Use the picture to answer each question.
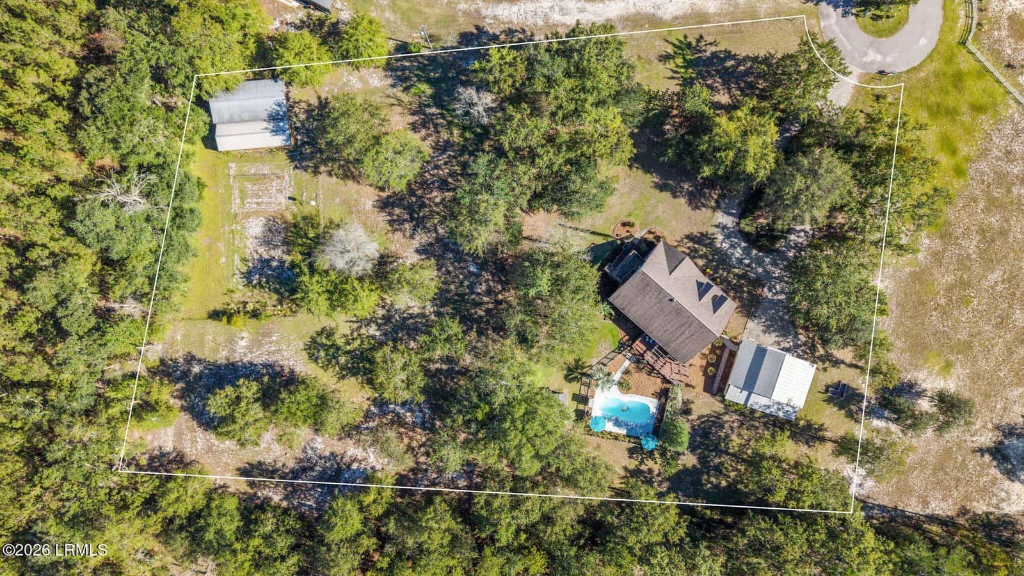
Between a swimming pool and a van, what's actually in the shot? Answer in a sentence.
I can see a swimming pool in this picture.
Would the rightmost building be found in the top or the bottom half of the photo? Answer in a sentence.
The rightmost building sits in the bottom half of the picture.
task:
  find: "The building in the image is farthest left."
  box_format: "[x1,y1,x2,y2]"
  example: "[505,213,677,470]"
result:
[210,79,297,154]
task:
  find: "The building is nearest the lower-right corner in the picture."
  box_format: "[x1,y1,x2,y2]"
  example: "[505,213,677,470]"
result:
[723,339,816,422]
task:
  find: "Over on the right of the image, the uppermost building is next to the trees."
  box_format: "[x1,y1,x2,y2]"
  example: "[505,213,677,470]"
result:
[608,239,736,365]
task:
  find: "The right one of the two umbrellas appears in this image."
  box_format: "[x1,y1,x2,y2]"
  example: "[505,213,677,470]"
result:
[641,434,657,450]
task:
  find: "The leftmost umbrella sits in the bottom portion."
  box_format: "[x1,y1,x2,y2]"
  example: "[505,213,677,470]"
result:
[589,415,606,432]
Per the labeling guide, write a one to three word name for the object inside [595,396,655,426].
swimming pool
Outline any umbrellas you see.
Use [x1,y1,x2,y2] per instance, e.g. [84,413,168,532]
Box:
[641,434,657,450]
[589,415,606,432]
